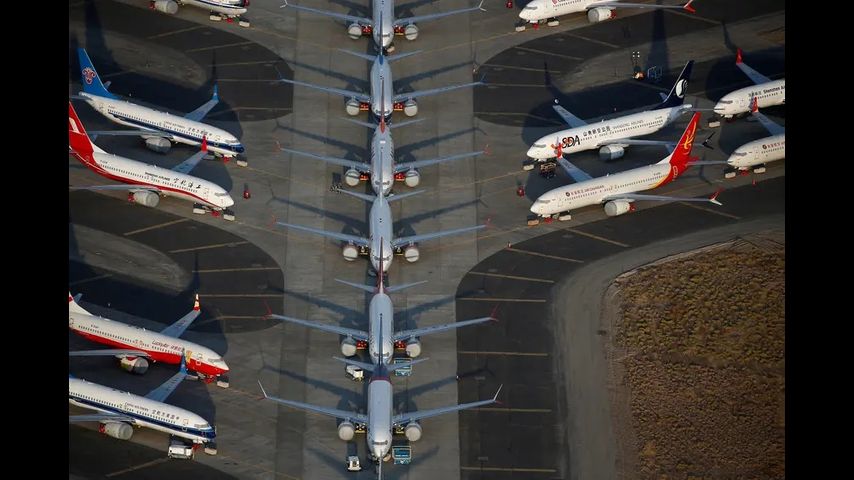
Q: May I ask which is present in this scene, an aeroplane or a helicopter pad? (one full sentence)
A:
It is an aeroplane that can be seen here.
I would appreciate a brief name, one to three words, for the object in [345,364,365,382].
vehicle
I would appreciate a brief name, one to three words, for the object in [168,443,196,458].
vehicle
